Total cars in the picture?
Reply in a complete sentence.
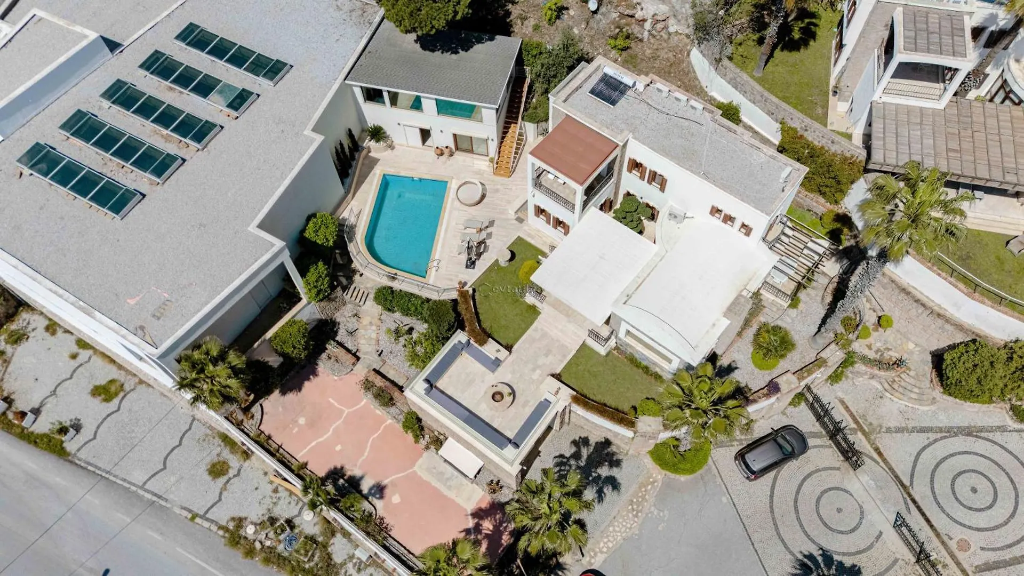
Just 1 car appears in this view.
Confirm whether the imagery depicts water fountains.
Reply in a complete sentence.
Yes, this view includes a water fountain.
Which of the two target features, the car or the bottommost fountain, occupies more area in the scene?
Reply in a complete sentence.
It is the car that is larger, not the fountain.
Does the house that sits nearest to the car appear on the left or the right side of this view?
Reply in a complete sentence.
The house that sits nearest to the car is on the right side of the image.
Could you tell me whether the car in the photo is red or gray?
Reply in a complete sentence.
In this view, the car is gray.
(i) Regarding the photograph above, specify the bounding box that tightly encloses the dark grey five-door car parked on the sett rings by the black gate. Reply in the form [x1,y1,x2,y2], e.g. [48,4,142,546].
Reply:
[735,430,809,483]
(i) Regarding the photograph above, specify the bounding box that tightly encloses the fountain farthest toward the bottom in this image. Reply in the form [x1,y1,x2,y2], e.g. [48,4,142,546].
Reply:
[486,383,513,409]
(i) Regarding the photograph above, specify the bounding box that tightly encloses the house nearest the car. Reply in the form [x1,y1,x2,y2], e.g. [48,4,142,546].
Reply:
[527,55,807,391]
